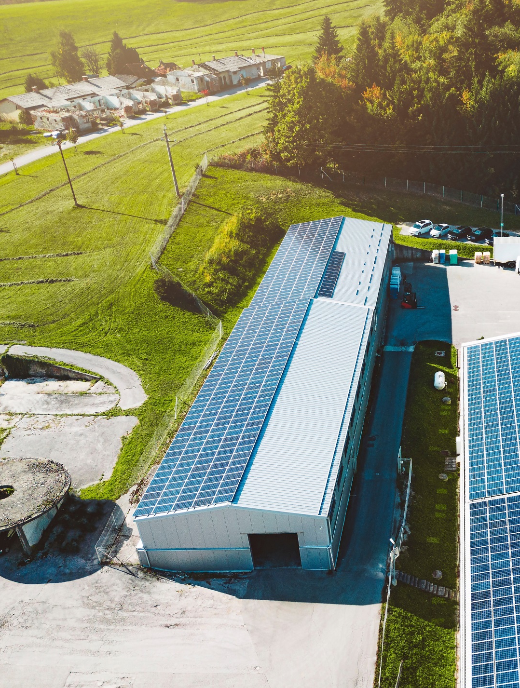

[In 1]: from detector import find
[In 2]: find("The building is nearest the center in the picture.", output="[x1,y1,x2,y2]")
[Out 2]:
[131,218,393,572]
